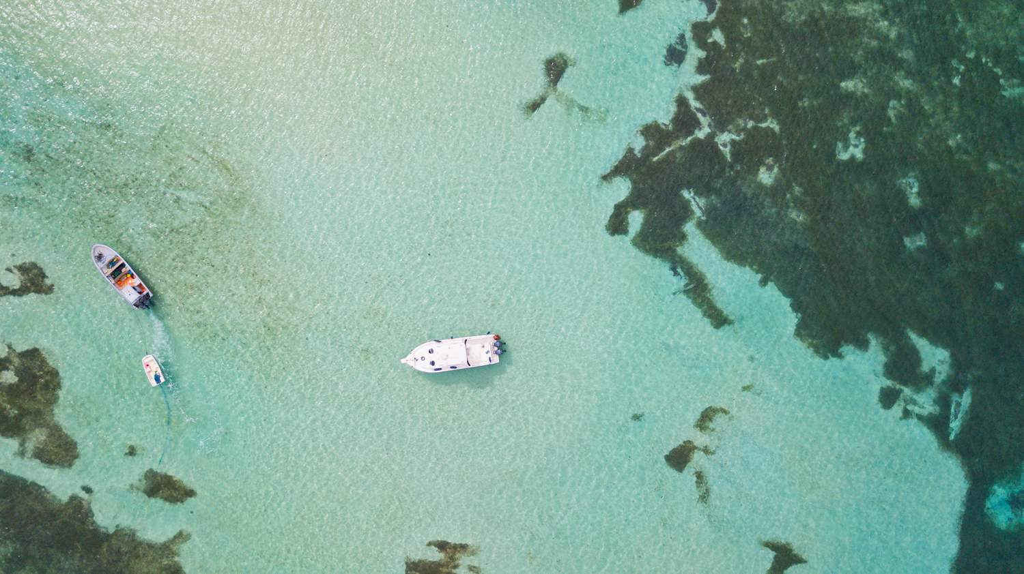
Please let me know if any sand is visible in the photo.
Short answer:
No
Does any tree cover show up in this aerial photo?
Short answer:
No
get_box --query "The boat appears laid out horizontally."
[401,335,510,373]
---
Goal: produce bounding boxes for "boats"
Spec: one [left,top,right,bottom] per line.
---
[142,354,166,386]
[90,243,154,314]
[401,335,510,373]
